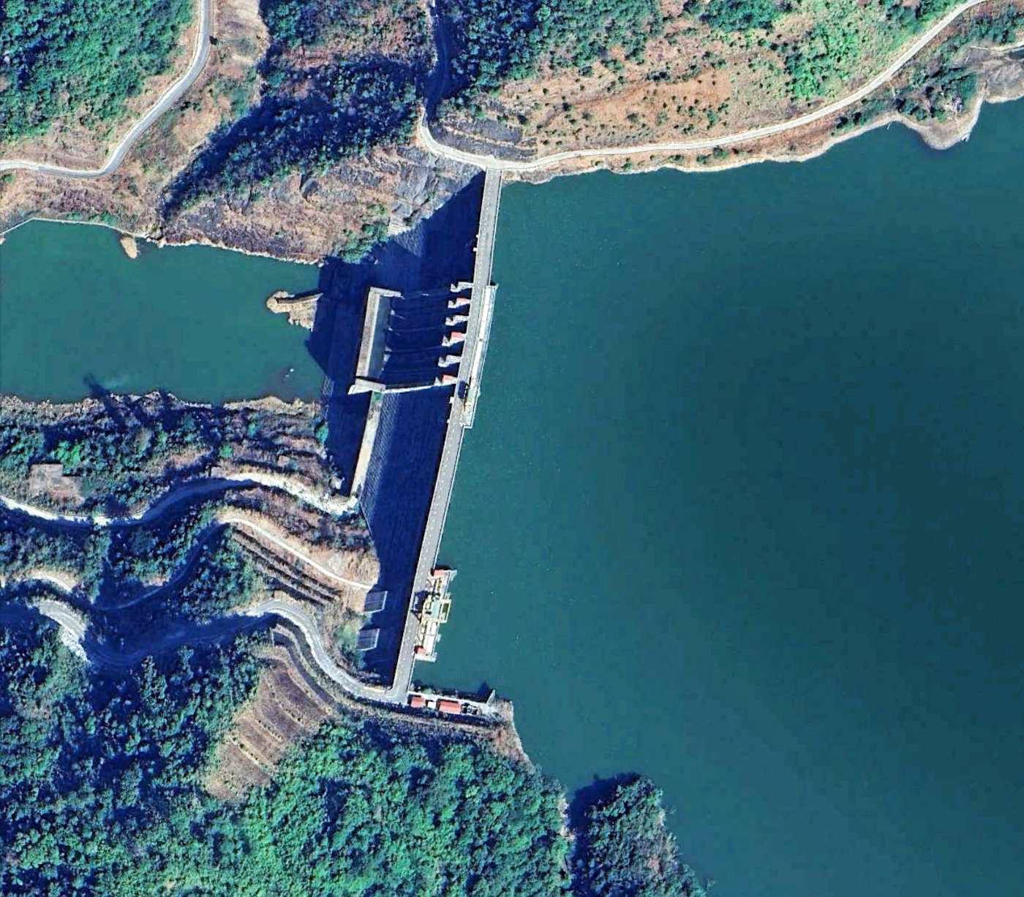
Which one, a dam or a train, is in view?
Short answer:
dam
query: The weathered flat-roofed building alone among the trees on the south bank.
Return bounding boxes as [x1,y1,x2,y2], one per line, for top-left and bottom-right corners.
[30,464,63,491]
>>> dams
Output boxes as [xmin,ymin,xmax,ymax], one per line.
[346,168,502,702]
